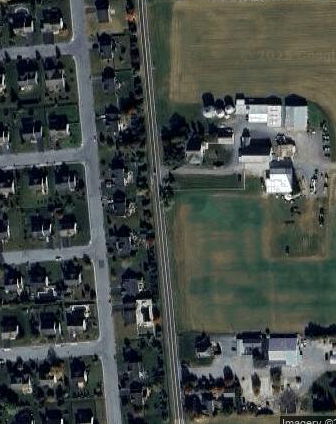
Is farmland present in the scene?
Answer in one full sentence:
Yes, there's farmland in this view.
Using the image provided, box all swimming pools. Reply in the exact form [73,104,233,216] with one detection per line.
[138,301,152,320]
